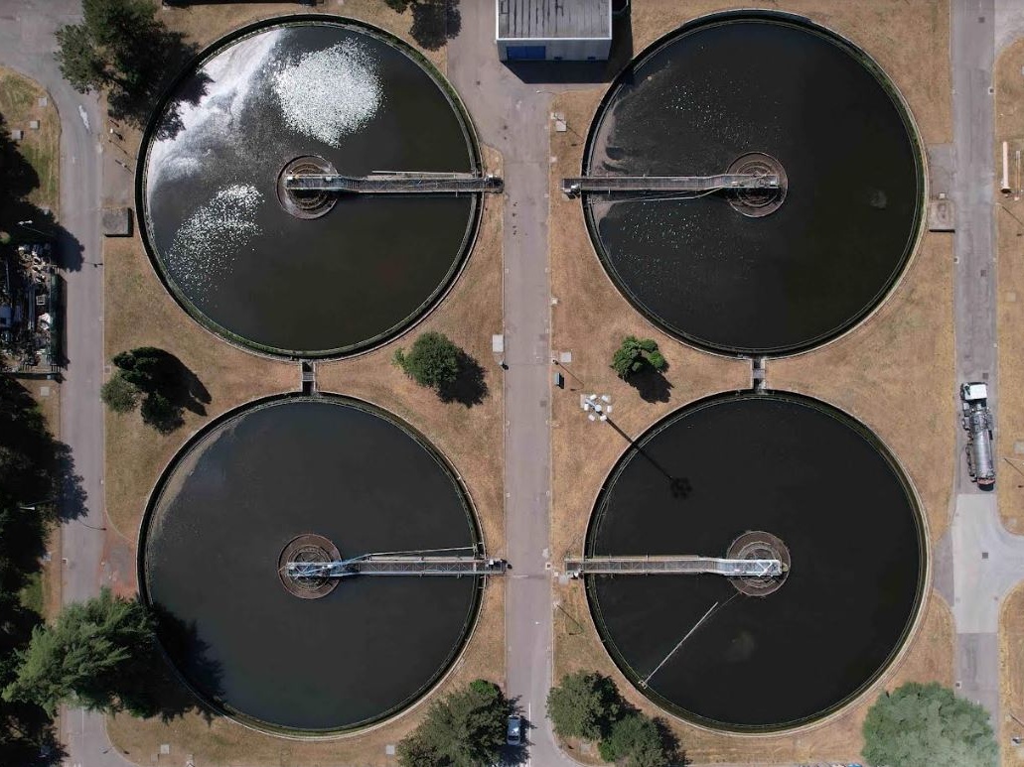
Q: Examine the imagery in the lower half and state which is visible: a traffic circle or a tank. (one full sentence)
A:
It is a tank that can be seen in the lower half.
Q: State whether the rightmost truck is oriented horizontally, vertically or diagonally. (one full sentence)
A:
I'd say the rightmost truck is aligned vertically in the picture.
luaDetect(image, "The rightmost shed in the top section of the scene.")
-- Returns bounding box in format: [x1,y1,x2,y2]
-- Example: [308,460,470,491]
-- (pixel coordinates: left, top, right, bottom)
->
[494,0,614,61]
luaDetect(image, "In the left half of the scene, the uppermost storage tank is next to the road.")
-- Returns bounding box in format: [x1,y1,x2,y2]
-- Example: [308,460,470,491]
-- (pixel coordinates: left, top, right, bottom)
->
[135,12,484,362]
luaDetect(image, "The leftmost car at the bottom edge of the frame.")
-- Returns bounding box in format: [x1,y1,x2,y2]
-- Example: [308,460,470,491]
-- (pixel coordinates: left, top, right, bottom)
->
[506,716,521,747]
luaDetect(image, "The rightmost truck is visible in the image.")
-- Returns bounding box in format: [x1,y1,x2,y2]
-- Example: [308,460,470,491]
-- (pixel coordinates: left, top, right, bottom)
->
[960,383,997,487]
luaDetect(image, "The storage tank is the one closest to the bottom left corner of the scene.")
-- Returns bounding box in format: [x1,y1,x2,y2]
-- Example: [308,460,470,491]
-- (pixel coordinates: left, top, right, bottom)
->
[136,389,486,739]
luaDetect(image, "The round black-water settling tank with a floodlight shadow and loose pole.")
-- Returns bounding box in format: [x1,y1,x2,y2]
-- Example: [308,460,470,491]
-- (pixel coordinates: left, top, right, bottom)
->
[584,389,933,738]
